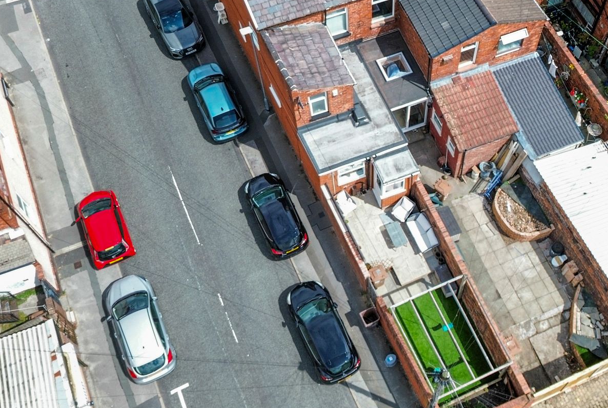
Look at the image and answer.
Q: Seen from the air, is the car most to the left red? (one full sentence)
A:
Yes, the car most to the left is indeed red.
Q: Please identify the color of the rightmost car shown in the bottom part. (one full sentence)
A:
The rightmost car shown in the bottom part looks black in the image.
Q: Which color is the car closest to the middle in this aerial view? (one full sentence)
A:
From above, the car closest to the middle appears black.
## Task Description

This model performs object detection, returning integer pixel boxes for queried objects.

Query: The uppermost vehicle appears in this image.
[144,0,206,62]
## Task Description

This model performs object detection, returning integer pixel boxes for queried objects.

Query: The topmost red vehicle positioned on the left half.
[70,187,136,270]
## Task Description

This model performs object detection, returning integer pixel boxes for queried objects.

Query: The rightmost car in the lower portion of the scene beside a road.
[284,278,363,385]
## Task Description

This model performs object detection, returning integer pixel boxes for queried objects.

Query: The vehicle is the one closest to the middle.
[240,169,310,261]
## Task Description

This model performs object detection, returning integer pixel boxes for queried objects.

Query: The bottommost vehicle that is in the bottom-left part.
[101,273,180,384]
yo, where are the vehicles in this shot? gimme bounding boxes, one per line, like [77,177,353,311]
[70,187,136,270]
[284,278,363,385]
[184,62,248,144]
[101,273,180,384]
[144,0,206,62]
[240,169,310,261]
